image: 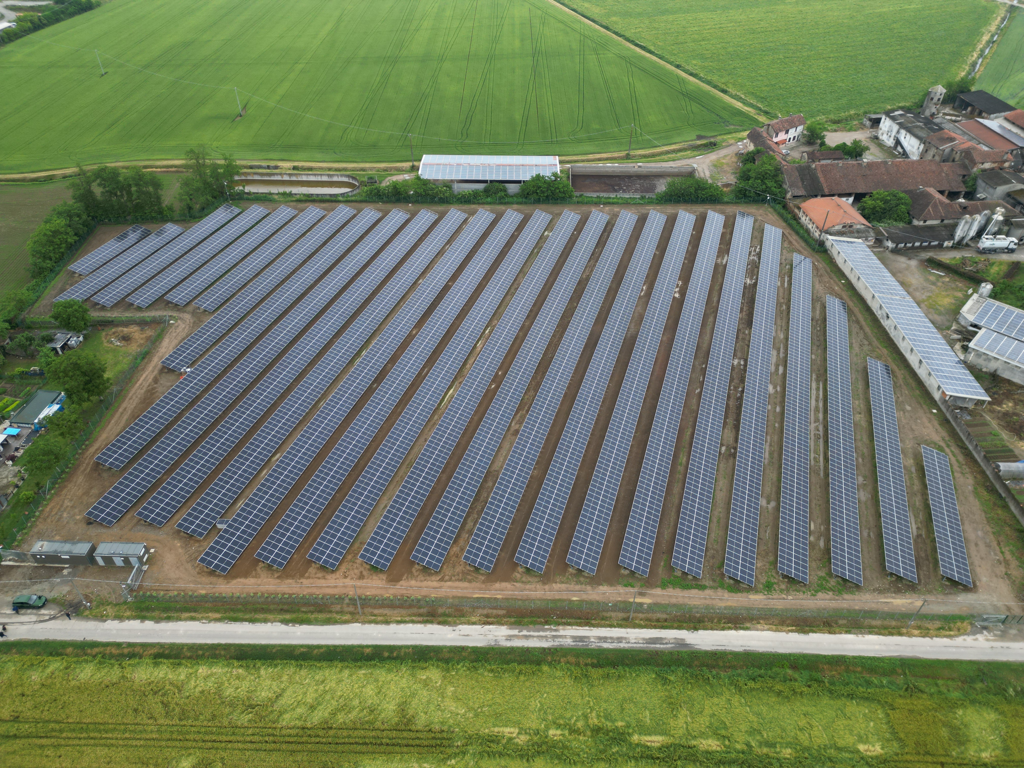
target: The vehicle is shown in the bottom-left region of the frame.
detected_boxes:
[10,590,49,607]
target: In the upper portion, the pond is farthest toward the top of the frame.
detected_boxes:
[196,171,361,198]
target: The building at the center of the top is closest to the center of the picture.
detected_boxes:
[415,155,561,194]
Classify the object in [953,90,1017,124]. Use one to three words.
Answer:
shed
